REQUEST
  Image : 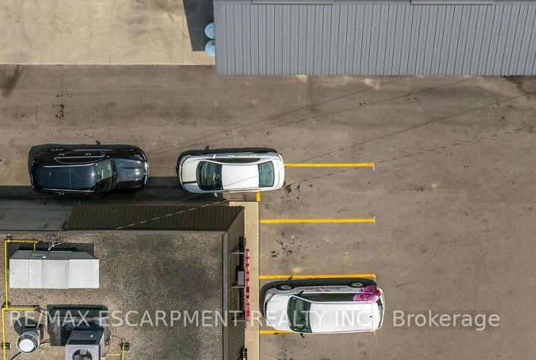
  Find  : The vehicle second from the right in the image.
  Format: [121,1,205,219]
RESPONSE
[178,153,285,203]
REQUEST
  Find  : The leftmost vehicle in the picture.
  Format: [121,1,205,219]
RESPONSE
[30,151,150,205]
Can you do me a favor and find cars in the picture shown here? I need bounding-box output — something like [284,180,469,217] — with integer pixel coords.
[178,153,285,203]
[30,151,150,205]
[263,281,385,341]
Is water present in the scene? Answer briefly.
No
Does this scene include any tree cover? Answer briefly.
No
